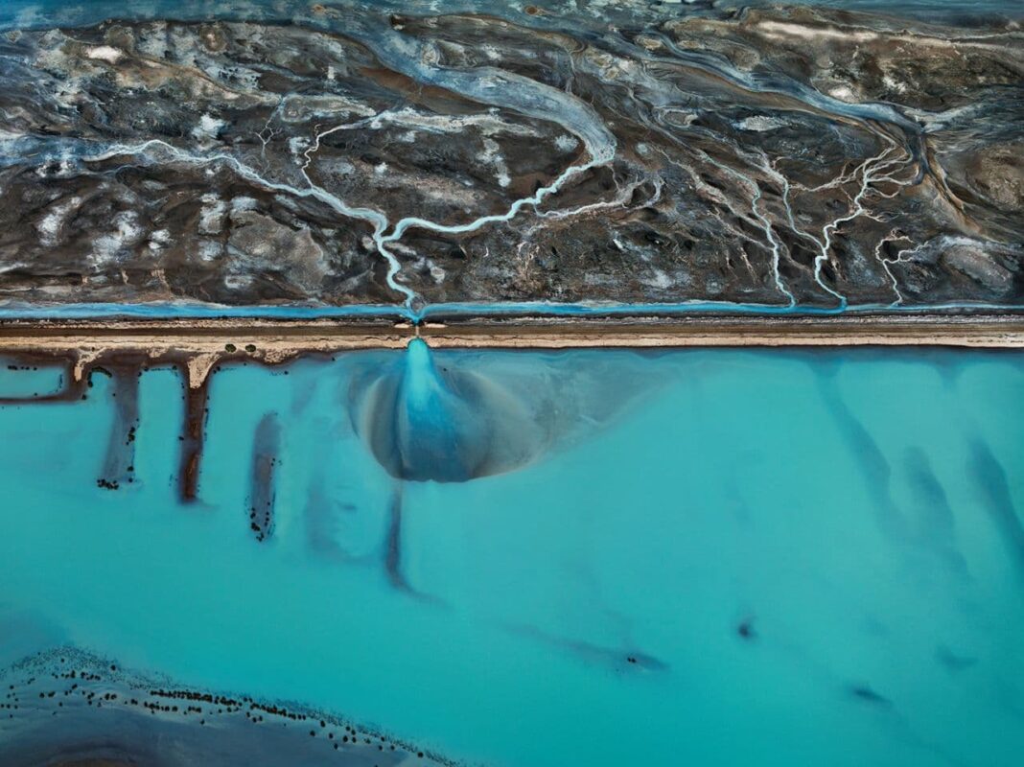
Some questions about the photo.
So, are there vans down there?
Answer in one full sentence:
No, there appears to be no van in this shot.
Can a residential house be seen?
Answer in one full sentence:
No, I find no residential house anywhere in the image.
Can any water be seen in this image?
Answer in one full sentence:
Yes, there's water in this view.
